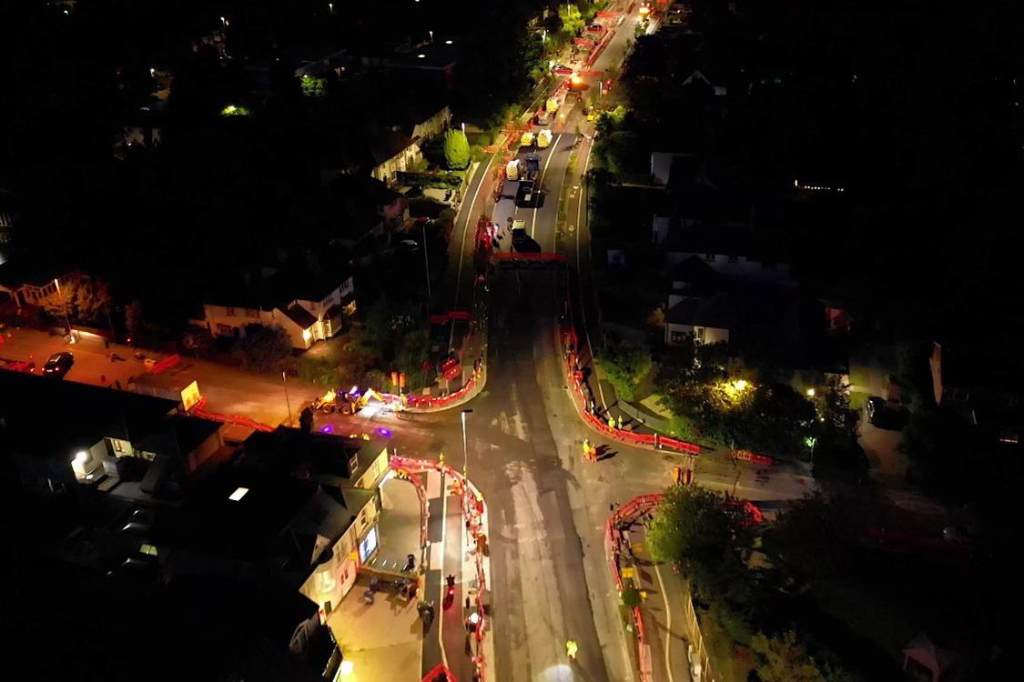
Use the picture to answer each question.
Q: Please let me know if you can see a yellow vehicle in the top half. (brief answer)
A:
Yes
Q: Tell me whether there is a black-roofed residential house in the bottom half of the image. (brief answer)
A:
Yes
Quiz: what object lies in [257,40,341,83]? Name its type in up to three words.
house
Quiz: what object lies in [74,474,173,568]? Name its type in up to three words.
house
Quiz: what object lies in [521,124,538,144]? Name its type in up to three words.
vehicle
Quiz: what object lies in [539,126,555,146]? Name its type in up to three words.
vehicle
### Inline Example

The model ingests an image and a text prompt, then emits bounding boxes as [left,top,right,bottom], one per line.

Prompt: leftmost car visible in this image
[41,347,79,371]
